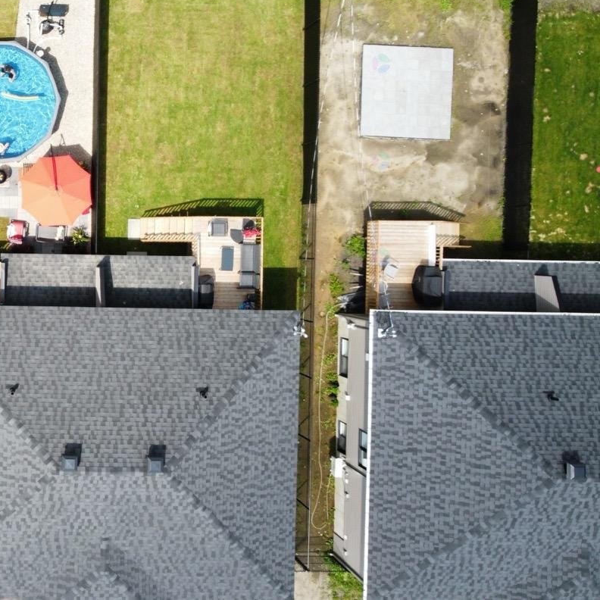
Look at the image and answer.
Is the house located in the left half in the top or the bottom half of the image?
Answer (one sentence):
Seen from above, the house located in the left half lies in the bottom half of the view.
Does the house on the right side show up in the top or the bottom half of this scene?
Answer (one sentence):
The house on the right side sits in the bottom half of the picture.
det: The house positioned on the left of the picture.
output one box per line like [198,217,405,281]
[0,251,304,600]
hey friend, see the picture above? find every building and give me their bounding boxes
[0,251,304,600]
[336,254,600,600]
